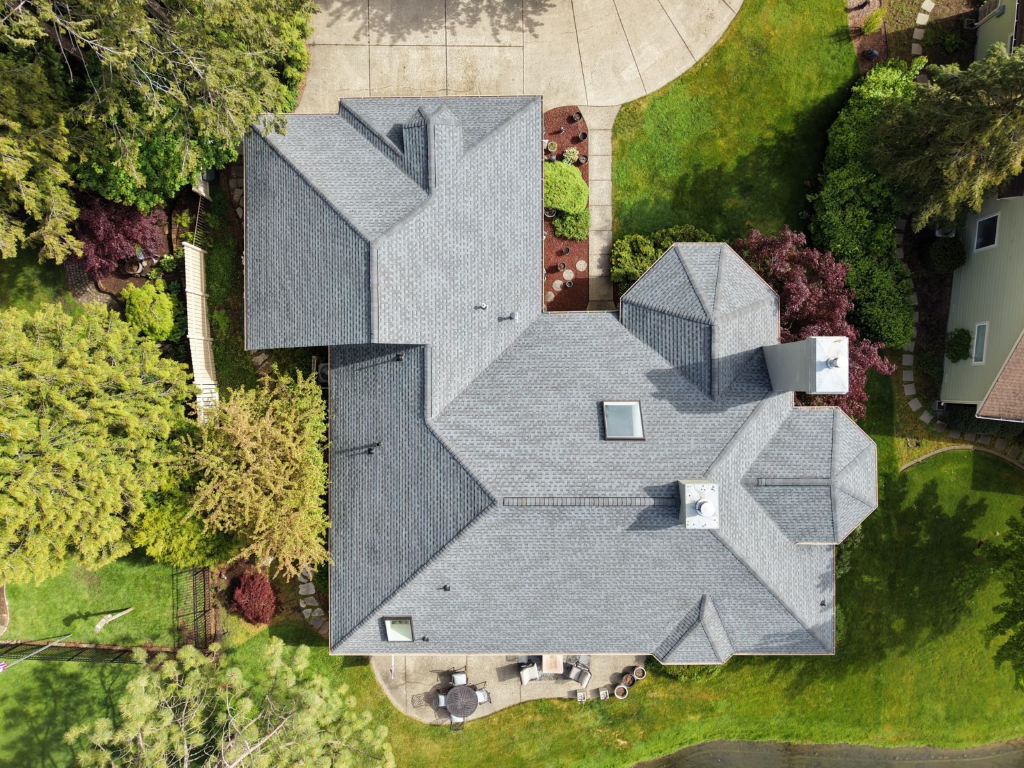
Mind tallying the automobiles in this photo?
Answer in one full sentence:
The photo contains no automobiles.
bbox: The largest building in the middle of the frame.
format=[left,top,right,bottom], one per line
[244,96,877,664]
